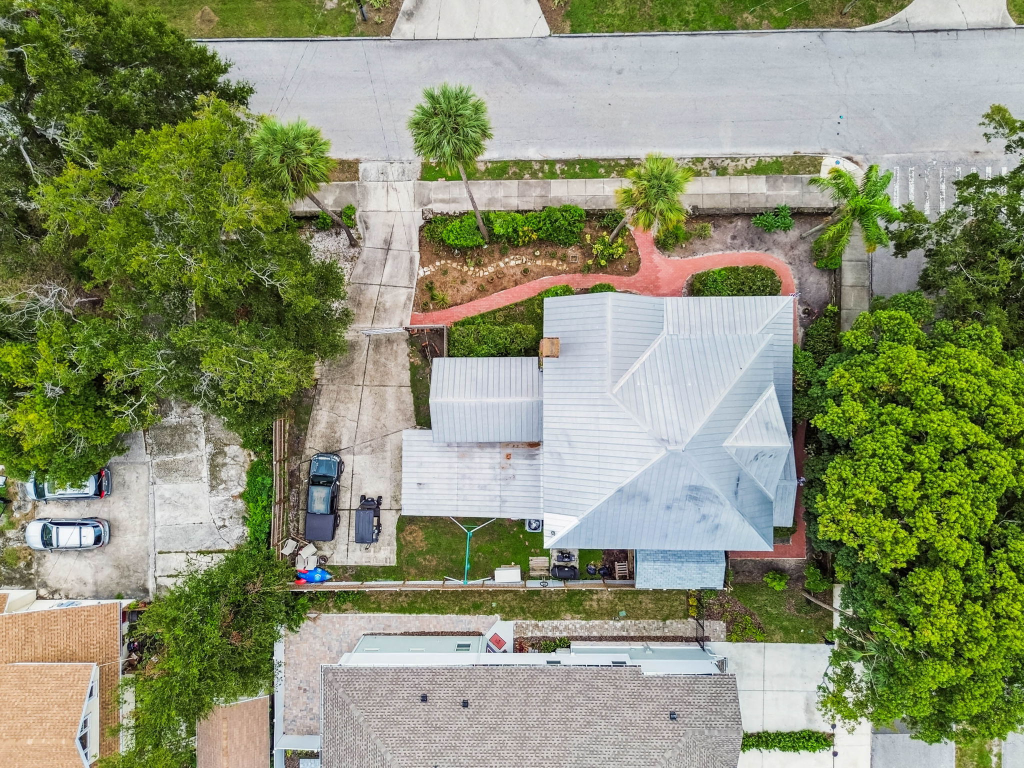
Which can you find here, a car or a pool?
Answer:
car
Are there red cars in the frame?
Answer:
No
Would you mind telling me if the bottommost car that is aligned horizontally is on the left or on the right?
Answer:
left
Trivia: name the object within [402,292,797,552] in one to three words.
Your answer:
house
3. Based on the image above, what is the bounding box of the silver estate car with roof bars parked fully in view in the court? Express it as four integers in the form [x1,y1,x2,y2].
[25,514,113,557]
